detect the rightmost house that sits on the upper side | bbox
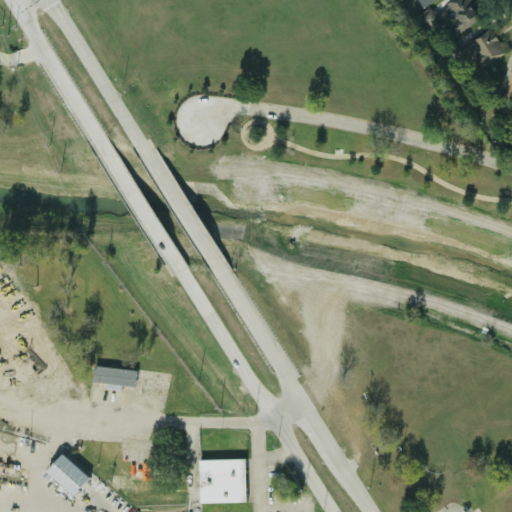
[476,27,506,62]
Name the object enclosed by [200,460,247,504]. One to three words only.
building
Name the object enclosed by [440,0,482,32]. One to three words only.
house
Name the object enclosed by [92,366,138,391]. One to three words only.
shed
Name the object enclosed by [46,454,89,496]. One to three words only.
barn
